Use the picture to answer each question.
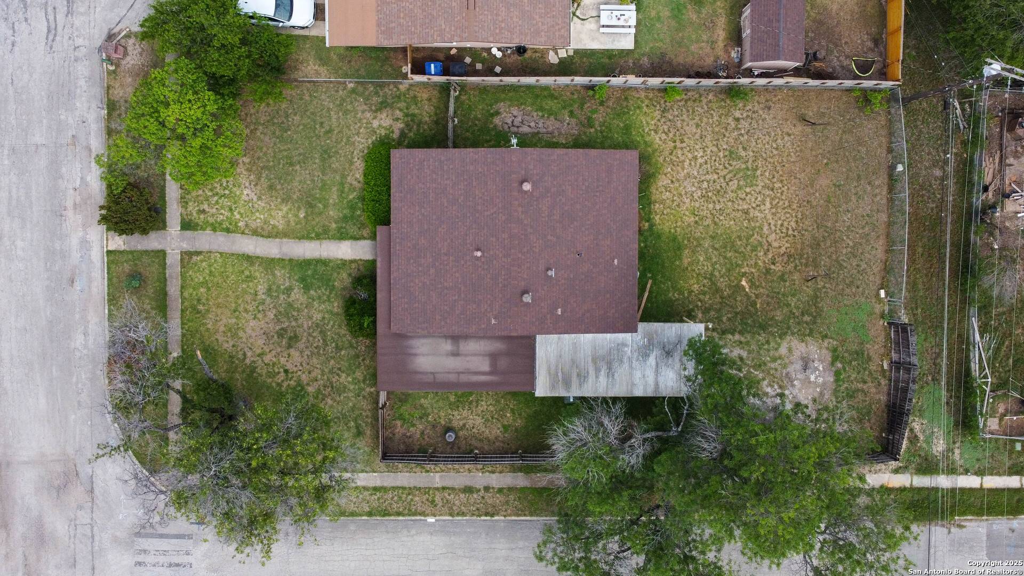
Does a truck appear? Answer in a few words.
No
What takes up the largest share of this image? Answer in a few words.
grass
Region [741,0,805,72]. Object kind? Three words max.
shed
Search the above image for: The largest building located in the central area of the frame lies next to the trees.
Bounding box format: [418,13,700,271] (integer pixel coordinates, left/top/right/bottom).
[377,146,639,392]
